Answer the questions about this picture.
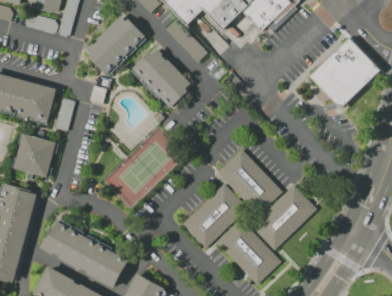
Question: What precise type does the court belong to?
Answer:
tennis court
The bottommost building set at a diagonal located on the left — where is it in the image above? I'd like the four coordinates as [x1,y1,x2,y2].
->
[40,220,126,288]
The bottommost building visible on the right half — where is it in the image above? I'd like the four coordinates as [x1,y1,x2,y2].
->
[216,224,283,284]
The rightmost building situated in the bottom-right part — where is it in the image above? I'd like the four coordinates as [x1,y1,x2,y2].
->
[256,186,318,251]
